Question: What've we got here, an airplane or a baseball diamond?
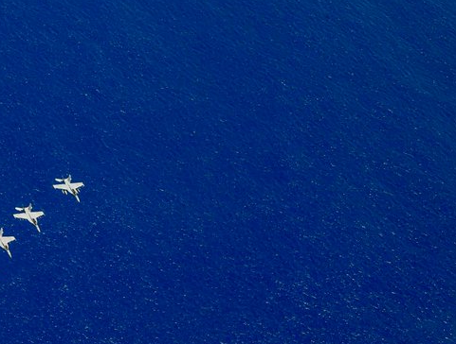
airplane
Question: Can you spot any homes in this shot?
No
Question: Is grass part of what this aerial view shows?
No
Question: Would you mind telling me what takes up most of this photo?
water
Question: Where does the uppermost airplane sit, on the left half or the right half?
left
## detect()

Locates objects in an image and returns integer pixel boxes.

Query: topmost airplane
[53,174,84,202]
